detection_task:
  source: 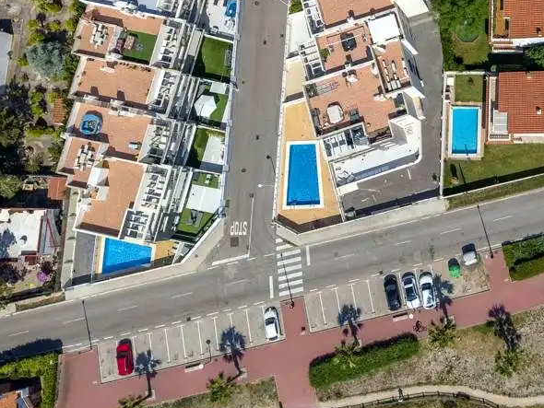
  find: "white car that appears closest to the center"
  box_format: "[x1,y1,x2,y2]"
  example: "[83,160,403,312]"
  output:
[259,305,281,346]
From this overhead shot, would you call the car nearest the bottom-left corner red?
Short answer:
Yes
